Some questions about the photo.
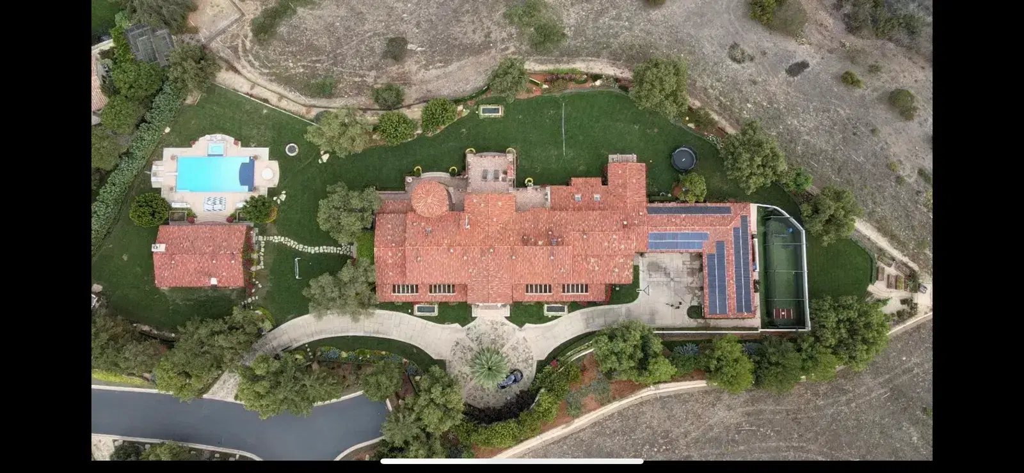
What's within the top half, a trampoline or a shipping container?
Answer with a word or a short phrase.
trampoline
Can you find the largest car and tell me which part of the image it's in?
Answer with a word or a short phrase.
bottom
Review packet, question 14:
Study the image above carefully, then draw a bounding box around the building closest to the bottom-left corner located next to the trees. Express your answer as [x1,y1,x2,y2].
[152,224,249,288]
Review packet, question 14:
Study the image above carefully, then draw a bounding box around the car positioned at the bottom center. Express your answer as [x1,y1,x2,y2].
[497,368,524,391]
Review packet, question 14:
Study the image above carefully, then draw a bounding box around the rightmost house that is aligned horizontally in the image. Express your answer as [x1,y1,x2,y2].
[374,162,757,319]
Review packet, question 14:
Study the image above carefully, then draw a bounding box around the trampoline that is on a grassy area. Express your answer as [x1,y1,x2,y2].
[669,144,700,173]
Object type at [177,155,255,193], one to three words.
swimming pool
